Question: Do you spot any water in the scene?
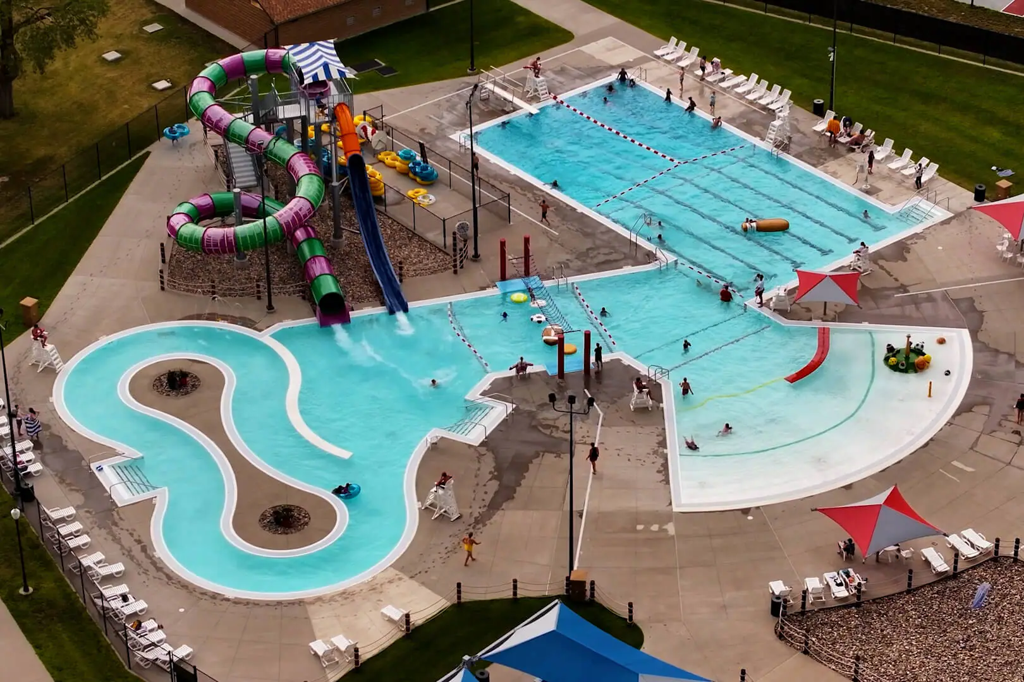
Yes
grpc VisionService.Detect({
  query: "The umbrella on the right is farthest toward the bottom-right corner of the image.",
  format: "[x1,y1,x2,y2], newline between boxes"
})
[811,485,951,567]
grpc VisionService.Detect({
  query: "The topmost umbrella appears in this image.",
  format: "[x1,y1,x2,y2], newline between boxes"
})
[968,192,1024,251]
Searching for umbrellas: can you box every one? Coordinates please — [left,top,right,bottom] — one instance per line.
[968,192,1024,251]
[791,270,863,325]
[811,485,951,567]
